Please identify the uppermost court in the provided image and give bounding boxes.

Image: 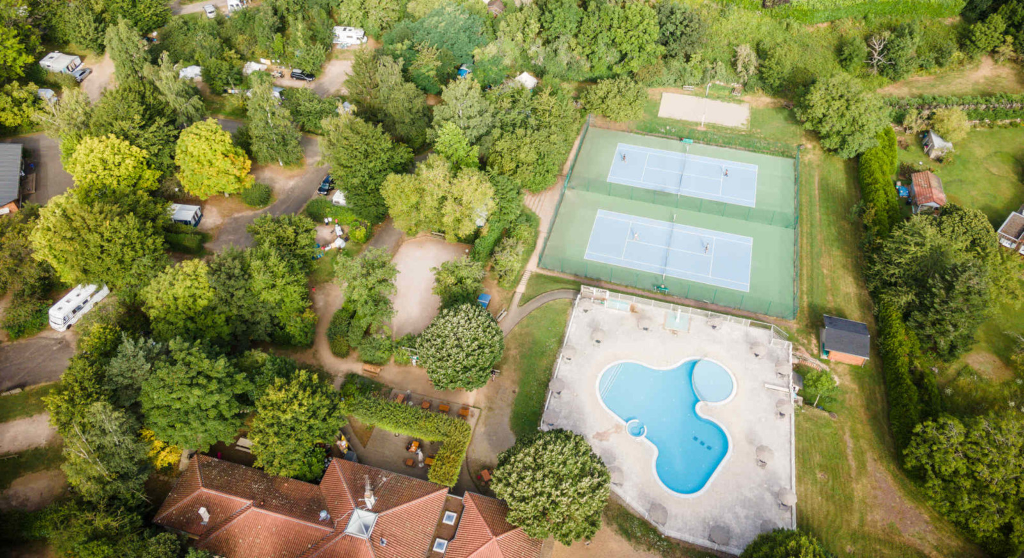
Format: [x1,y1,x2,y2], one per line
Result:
[658,82,750,128]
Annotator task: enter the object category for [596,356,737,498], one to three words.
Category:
swimming pool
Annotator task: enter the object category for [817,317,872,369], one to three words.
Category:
shed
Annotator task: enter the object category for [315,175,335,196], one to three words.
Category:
car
